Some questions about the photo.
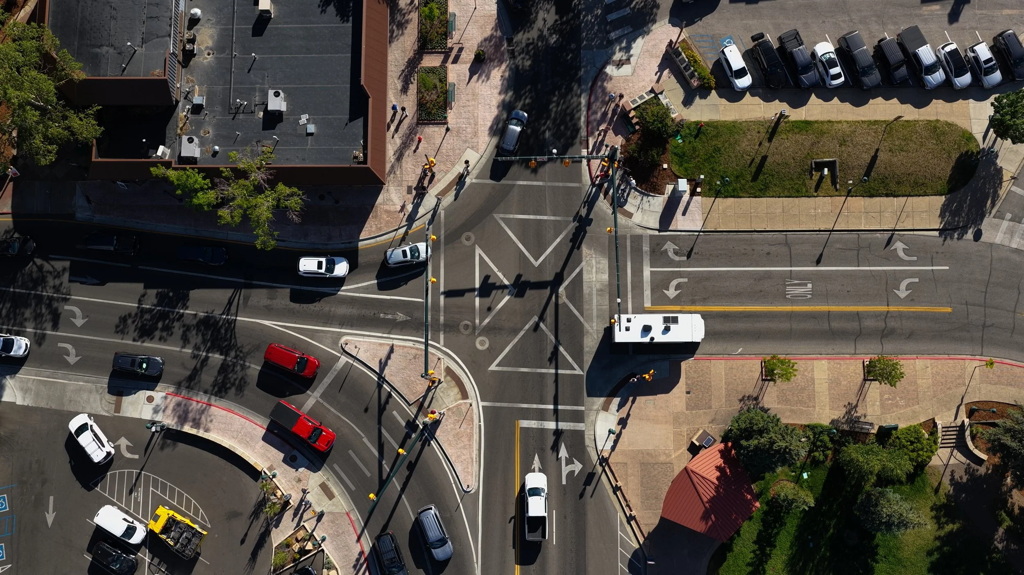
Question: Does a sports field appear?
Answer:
No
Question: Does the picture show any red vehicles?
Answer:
Yes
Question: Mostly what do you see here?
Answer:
paved ground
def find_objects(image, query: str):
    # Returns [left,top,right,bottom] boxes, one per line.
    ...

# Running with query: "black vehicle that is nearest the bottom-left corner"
[92,539,140,575]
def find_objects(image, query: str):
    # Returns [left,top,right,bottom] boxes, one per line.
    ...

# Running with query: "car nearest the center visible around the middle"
[383,240,432,269]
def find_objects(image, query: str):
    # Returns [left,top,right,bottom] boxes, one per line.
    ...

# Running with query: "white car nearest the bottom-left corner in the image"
[95,502,149,544]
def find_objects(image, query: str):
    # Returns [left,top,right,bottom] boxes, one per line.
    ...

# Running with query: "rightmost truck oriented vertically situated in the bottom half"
[523,473,550,542]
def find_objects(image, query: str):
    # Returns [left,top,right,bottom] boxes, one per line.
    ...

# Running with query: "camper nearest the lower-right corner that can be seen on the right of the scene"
[610,310,708,346]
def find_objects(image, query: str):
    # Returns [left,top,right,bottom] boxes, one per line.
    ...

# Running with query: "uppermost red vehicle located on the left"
[262,344,323,378]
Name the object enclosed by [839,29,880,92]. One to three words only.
truck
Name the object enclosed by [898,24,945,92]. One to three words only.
truck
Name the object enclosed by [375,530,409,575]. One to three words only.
car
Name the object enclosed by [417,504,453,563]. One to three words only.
car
